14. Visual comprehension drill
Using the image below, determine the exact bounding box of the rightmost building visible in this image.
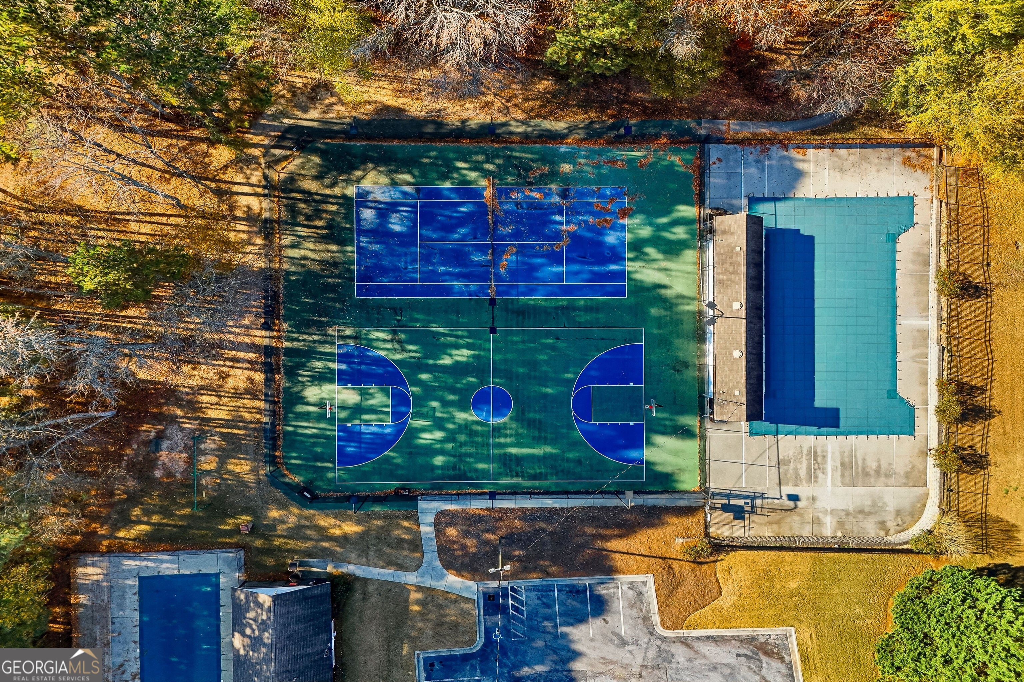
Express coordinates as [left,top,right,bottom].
[707,214,766,422]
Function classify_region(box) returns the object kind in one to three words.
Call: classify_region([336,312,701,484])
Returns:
basketball court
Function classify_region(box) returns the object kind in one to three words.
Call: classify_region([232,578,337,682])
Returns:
building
